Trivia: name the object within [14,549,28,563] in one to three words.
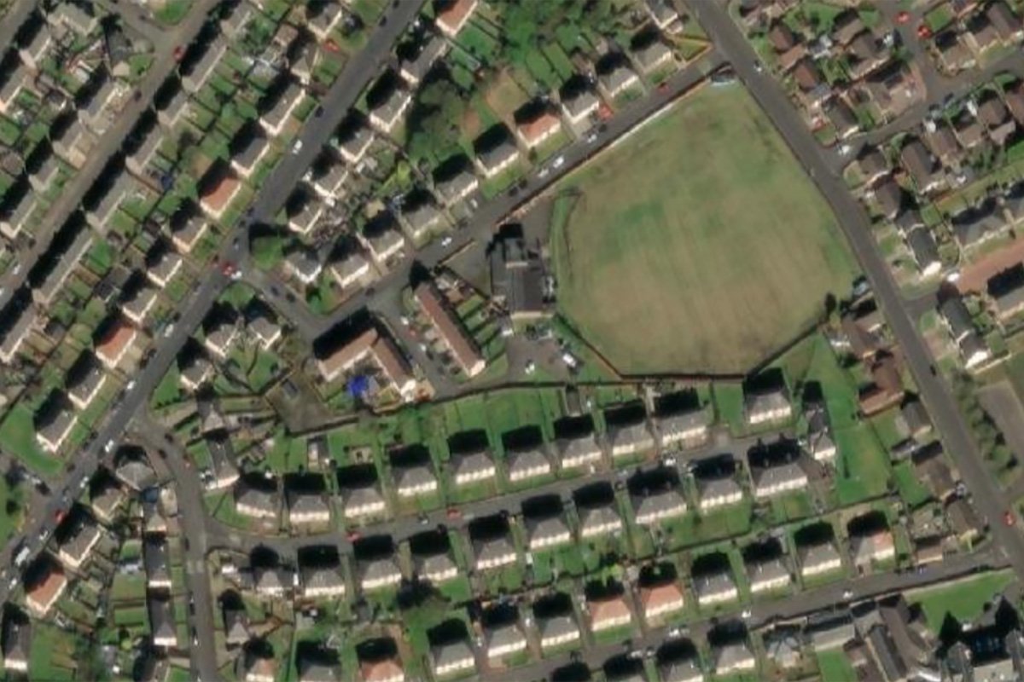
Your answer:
vehicle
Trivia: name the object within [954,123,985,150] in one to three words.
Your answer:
house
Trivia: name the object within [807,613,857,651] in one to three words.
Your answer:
building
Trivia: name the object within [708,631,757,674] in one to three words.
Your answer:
house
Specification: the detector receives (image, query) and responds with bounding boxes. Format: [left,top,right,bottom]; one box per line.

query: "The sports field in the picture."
[567,85,856,375]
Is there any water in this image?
No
